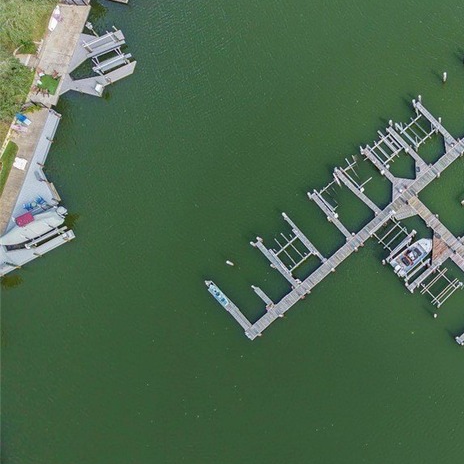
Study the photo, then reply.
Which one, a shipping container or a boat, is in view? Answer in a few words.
boat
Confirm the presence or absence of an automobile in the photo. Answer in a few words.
No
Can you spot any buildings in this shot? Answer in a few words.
No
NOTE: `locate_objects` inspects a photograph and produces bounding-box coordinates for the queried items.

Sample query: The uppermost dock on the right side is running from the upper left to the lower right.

[412,94,457,143]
